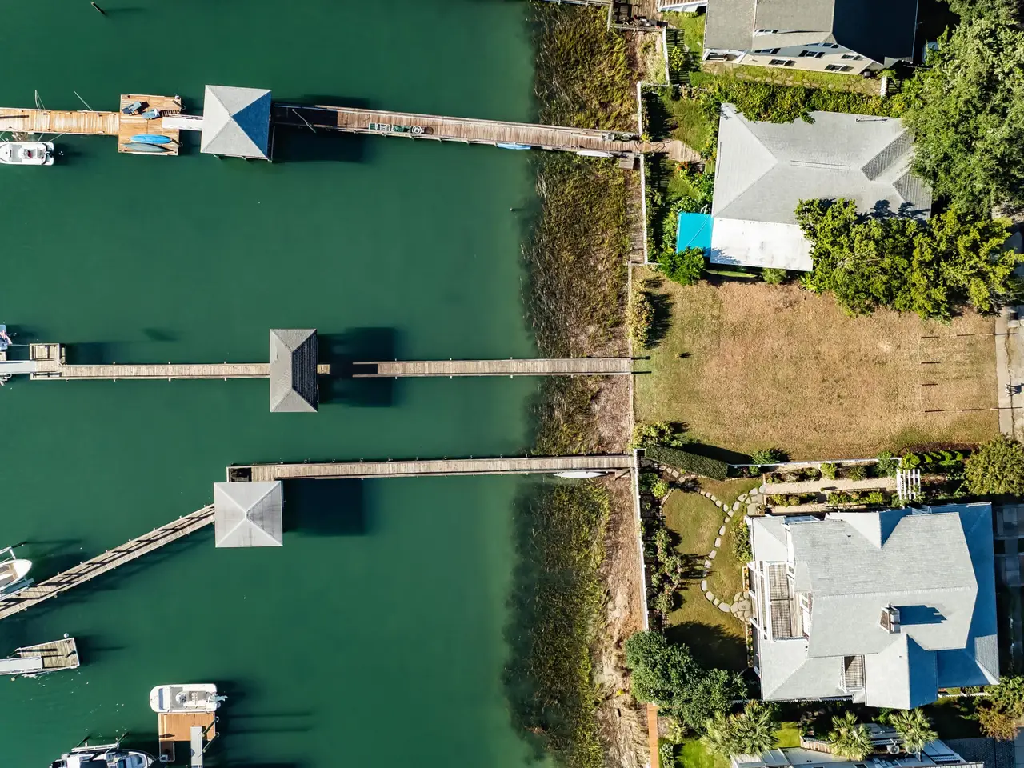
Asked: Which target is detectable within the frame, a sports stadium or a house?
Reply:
house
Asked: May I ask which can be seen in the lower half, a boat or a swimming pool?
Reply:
boat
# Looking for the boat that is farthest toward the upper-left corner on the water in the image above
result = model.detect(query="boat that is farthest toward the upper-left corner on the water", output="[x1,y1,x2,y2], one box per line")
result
[0,141,70,166]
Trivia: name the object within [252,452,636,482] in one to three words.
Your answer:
pier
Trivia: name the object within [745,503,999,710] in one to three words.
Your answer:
house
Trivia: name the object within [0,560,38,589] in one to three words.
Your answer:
boat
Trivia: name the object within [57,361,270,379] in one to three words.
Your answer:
pier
